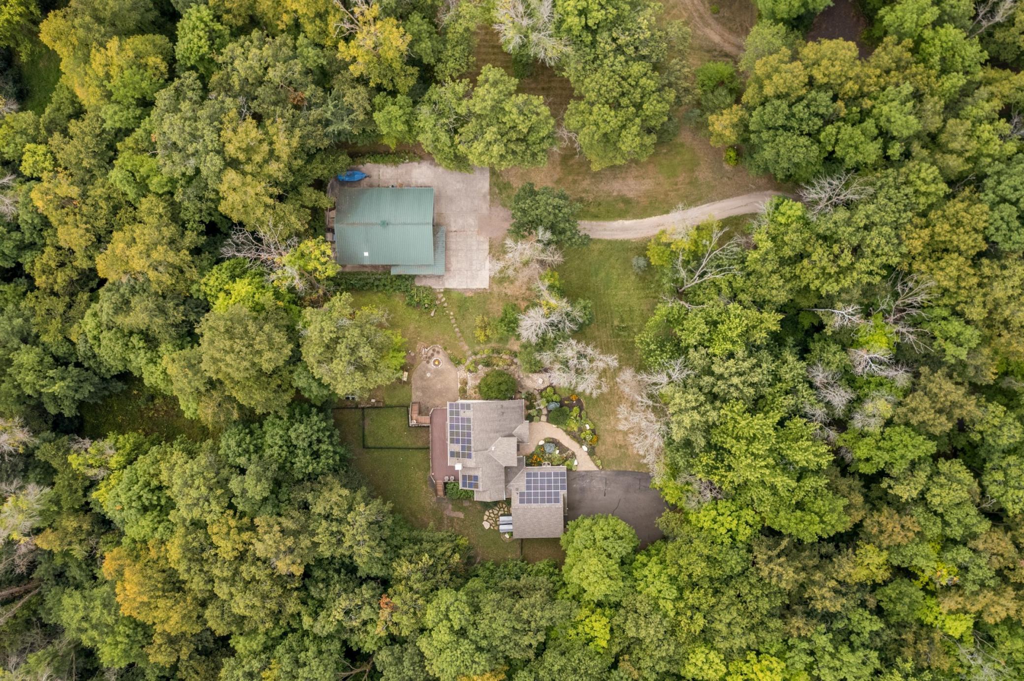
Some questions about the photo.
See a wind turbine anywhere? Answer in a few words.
No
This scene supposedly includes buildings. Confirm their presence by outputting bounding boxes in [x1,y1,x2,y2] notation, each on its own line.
[447,399,568,539]
[334,187,446,275]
